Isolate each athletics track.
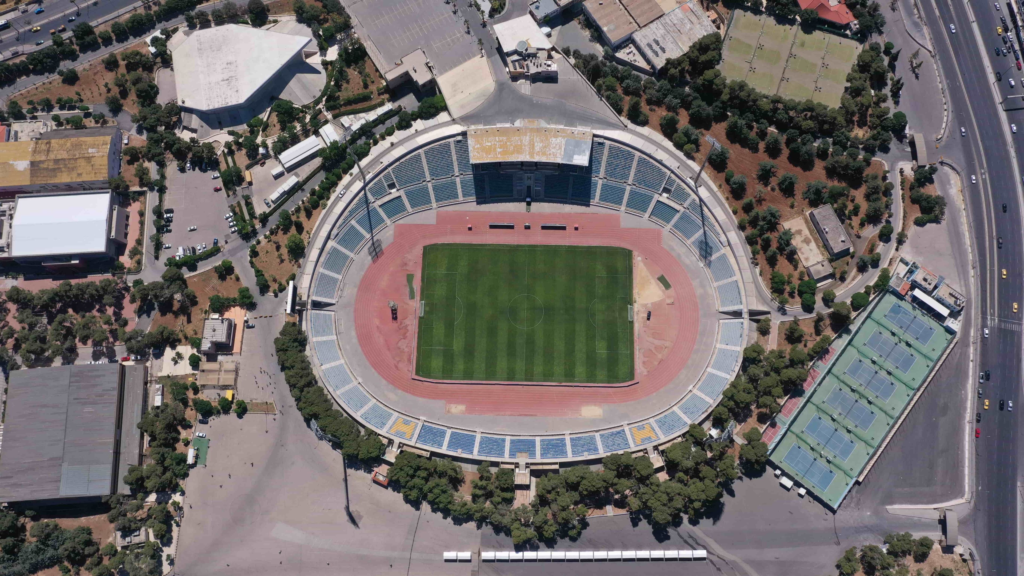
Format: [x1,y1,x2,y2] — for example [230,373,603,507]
[354,211,699,418]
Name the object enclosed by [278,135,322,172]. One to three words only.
shed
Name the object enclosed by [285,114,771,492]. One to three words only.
stadium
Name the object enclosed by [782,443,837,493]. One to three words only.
tennis court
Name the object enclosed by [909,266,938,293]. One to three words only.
building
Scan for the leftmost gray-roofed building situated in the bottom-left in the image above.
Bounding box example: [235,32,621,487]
[0,363,120,504]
